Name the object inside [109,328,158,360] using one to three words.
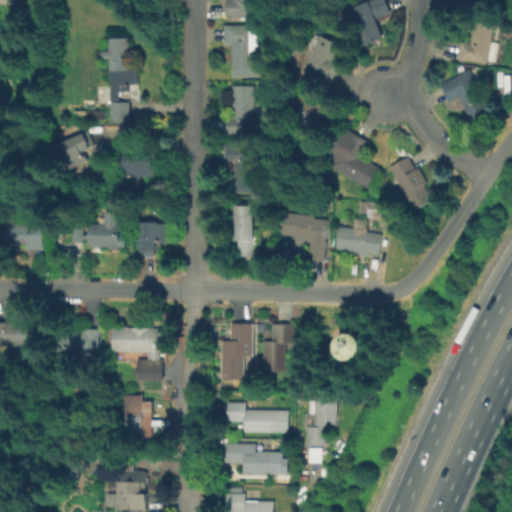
house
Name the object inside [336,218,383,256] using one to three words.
house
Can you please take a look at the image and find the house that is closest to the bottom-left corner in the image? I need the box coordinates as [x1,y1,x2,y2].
[106,470,149,512]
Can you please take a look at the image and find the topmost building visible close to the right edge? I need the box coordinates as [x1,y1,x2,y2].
[456,25,492,62]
